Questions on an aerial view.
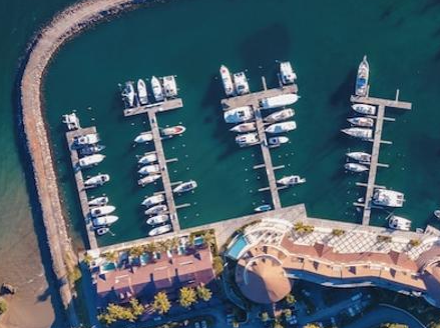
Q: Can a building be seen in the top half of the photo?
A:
No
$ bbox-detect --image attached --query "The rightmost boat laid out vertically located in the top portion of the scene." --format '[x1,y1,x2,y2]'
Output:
[355,57,368,98]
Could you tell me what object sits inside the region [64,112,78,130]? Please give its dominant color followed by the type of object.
white boat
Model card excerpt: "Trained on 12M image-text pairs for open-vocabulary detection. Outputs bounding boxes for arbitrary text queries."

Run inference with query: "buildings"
[97,244,222,309]
[231,239,440,305]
